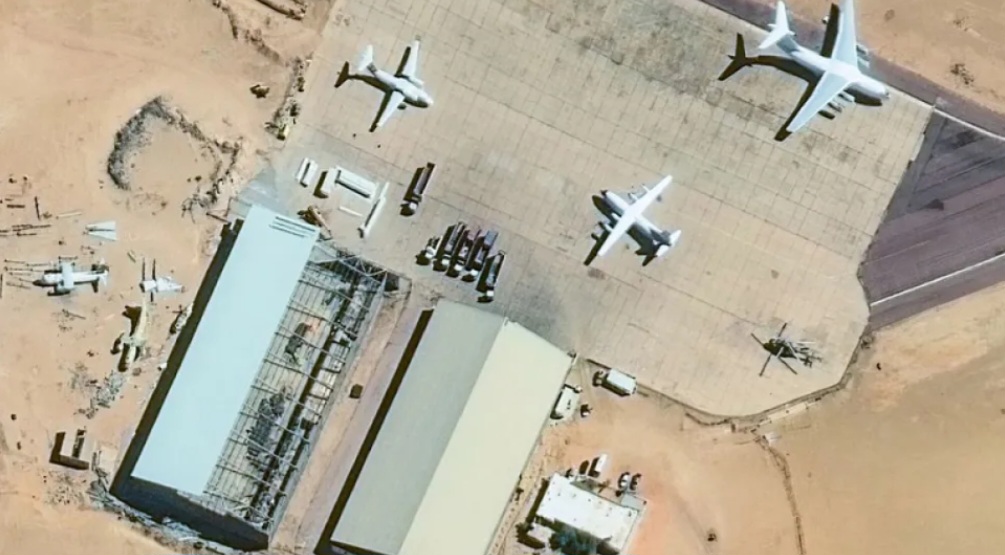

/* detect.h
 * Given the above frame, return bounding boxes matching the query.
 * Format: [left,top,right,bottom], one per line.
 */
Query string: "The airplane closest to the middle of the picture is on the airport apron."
[591,172,683,257]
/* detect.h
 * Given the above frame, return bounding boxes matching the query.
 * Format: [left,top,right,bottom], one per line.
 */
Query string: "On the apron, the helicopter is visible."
[761,318,819,376]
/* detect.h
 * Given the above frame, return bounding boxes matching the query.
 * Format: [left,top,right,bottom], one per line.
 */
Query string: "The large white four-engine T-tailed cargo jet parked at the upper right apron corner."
[759,0,887,128]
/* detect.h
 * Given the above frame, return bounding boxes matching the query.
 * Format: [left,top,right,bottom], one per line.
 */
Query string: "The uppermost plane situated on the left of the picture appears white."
[356,40,433,130]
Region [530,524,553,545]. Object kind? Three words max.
shed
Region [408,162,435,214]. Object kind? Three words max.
truck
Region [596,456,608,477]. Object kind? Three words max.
vehicle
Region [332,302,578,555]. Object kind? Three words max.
hangar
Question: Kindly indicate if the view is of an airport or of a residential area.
airport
